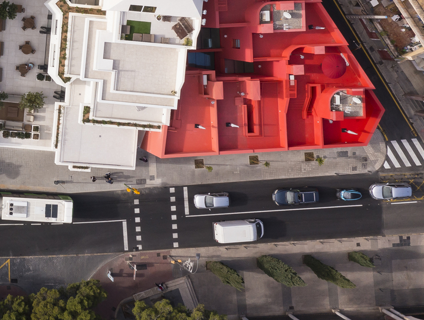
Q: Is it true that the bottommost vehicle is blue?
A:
No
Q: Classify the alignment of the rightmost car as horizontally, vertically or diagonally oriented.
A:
horizontally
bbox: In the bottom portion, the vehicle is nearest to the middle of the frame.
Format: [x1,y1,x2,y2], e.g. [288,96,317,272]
[193,192,232,213]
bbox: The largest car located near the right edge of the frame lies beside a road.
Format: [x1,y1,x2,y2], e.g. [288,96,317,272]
[371,183,417,204]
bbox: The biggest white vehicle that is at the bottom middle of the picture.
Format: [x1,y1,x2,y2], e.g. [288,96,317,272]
[212,221,263,246]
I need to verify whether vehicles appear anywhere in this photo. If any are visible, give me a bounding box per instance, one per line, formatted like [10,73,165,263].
[193,192,232,213]
[0,197,76,227]
[338,188,365,205]
[371,183,417,204]
[212,221,263,246]
[272,189,322,210]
